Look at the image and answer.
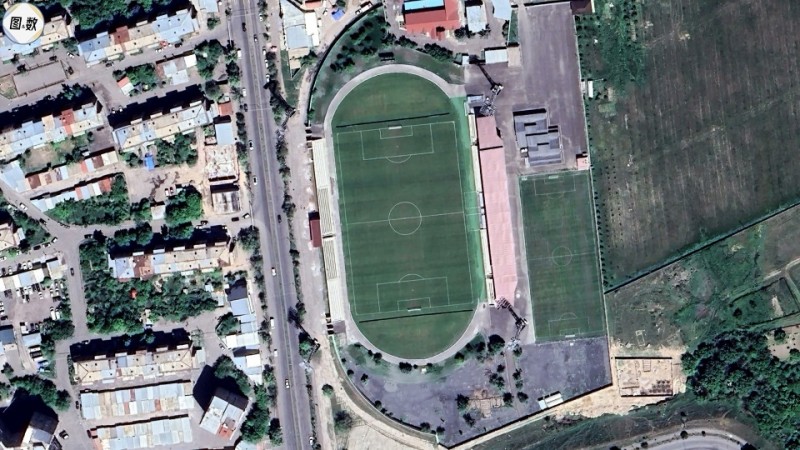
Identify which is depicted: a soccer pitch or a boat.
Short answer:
soccer pitch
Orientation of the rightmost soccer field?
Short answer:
vertically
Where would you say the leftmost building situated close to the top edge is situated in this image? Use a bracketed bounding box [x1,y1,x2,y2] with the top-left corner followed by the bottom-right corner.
[0,9,71,60]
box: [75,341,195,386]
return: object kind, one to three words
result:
building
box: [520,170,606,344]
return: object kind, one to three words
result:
soccer field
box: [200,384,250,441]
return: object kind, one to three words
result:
building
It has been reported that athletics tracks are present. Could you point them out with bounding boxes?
[326,67,486,370]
